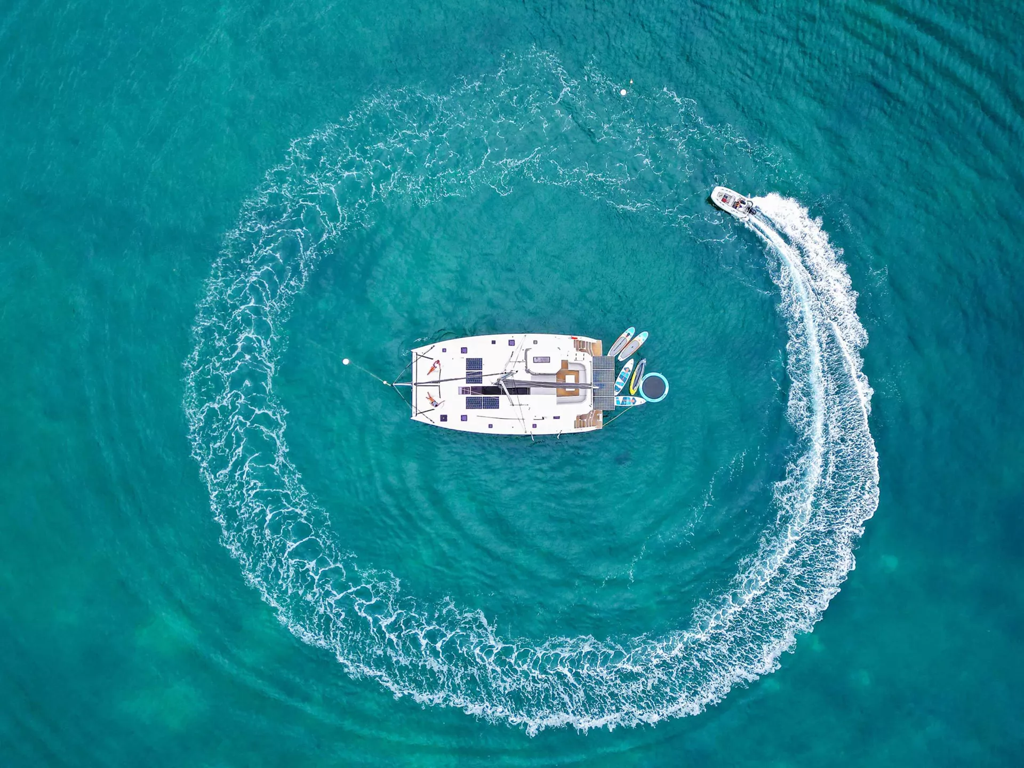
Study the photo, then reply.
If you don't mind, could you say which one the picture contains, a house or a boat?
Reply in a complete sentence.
Of the two, only a boat appears.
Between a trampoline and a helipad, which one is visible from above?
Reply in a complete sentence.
The one in the frame is a trampoline.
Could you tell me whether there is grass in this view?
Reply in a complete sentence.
No, the scene doesn't show any grass.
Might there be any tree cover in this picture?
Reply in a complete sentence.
No, there's no tree cover in this view.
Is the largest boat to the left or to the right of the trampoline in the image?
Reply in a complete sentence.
In the image, the largest boat sits on the left side of the trampoline.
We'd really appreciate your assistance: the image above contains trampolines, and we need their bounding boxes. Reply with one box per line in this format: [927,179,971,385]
[640,373,669,402]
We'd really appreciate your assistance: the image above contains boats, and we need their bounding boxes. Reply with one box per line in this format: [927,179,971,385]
[714,188,757,219]
[630,358,647,395]
[392,333,615,436]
